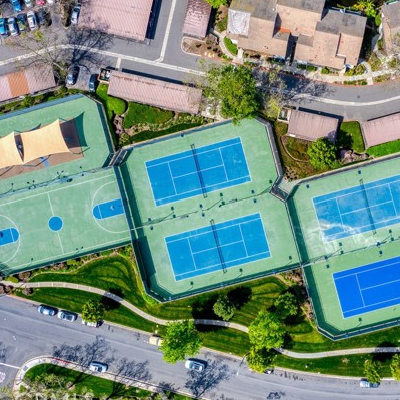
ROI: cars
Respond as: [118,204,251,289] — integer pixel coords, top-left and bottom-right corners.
[0,17,10,38]
[10,0,24,12]
[89,360,110,372]
[16,12,29,34]
[58,310,76,321]
[88,73,99,94]
[23,0,34,11]
[46,0,57,7]
[36,8,49,29]
[36,304,57,316]
[67,64,81,86]
[26,10,39,31]
[7,17,20,38]
[359,378,379,388]
[186,358,206,371]
[70,6,81,25]
[35,0,46,9]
